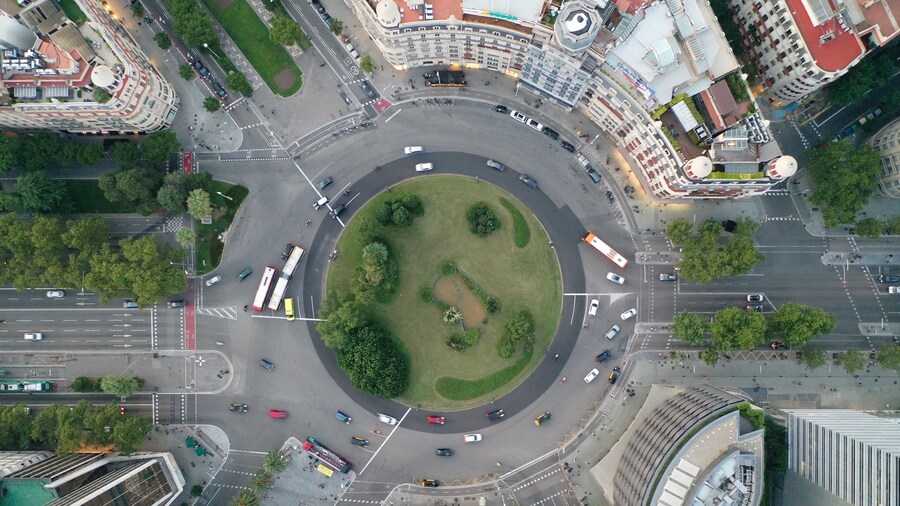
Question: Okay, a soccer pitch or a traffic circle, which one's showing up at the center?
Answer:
traffic circle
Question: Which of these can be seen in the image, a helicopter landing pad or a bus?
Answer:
bus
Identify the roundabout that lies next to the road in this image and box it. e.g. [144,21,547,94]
[197,98,650,490]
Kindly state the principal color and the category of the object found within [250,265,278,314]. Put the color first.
white bus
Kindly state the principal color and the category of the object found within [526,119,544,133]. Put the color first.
white vehicle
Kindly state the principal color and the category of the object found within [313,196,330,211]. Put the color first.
white car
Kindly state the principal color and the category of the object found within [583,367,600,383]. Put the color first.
white car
